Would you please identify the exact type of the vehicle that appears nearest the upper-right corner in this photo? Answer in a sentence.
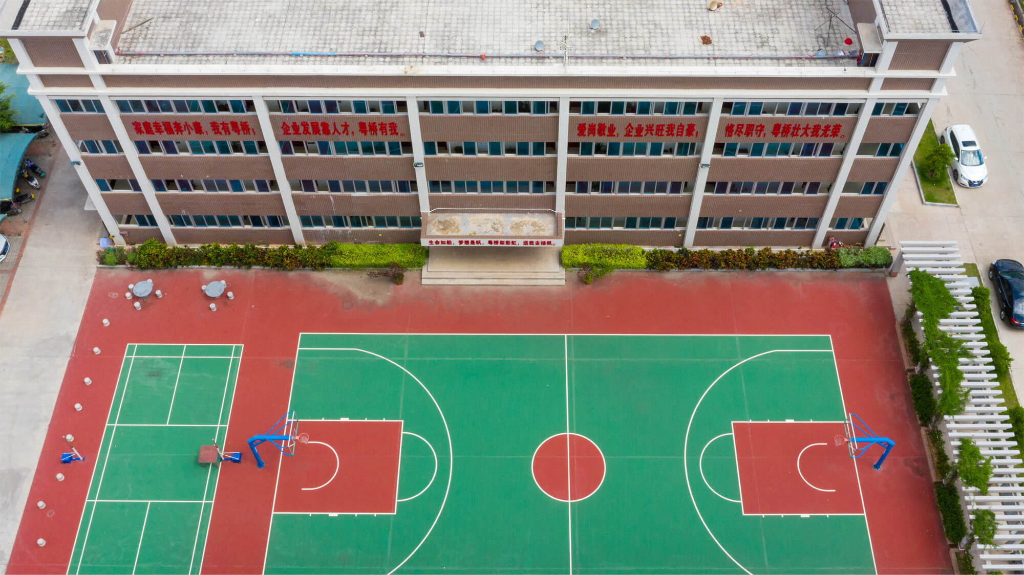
It turns out the vehicle that appears nearest the upper-right corner is an automobile.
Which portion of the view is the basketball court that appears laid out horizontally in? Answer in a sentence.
Look in the bottom portion of the view to spot the basketball court that appears laid out horizontally.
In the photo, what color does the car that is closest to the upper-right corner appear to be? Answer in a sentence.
From above, the car that is closest to the upper-right corner appears white.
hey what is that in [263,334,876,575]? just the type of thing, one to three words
basketball court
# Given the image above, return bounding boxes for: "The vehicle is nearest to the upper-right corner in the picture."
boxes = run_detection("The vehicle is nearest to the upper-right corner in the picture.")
[943,119,993,188]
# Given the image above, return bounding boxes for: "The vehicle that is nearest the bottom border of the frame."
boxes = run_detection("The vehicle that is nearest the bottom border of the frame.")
[990,257,1024,333]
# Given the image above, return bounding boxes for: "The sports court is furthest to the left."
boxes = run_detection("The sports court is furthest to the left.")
[66,343,244,575]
